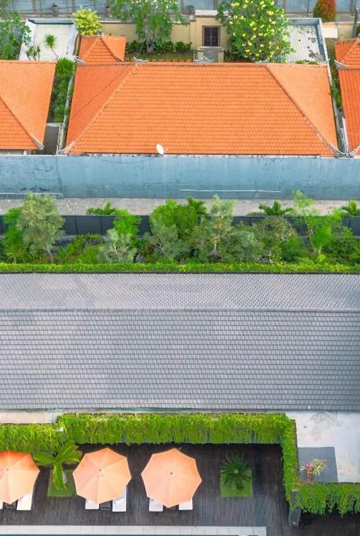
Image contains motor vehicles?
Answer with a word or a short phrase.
No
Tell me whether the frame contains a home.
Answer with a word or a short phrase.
Yes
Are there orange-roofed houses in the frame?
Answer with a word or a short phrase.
Yes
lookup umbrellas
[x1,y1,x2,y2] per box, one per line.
[140,447,202,506]
[71,447,133,506]
[0,447,41,506]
